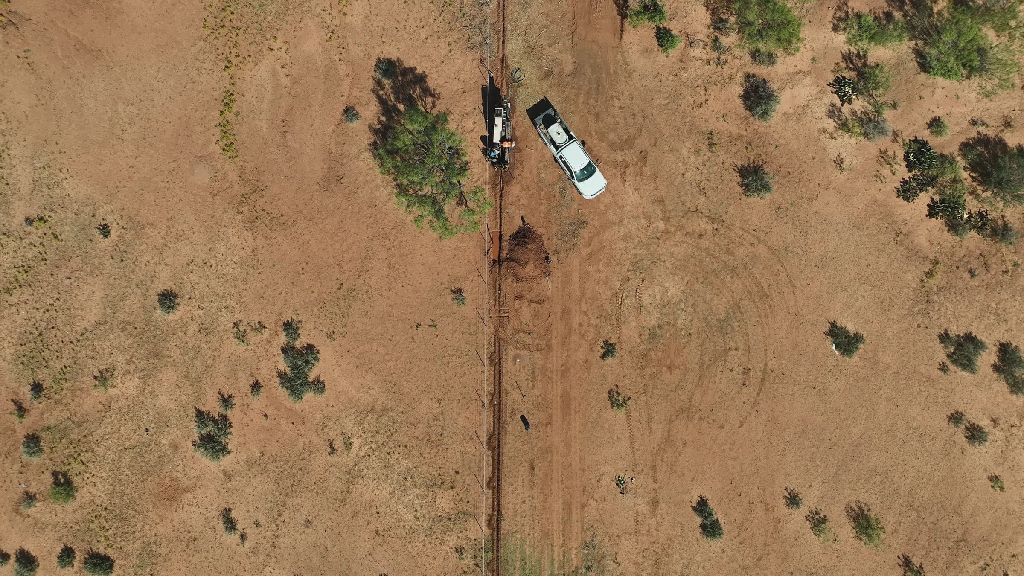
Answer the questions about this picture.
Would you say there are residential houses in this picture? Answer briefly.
No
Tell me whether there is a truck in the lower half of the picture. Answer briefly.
No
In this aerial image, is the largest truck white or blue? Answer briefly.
white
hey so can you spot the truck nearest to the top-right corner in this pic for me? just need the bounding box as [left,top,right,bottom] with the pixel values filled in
[530,106,607,200]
